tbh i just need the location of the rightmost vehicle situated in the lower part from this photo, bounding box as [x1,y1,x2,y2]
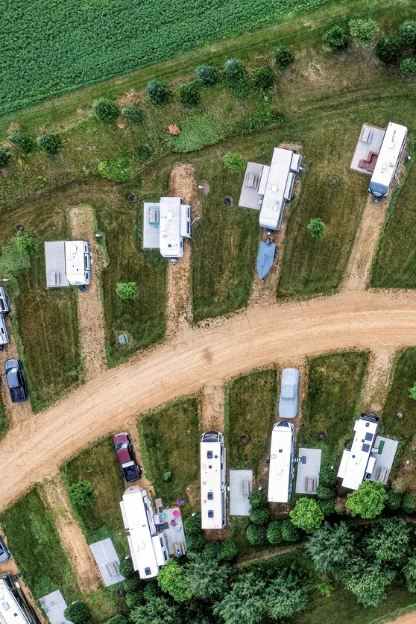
[337,405,380,488]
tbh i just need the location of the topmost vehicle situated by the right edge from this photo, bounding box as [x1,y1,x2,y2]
[367,122,409,205]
